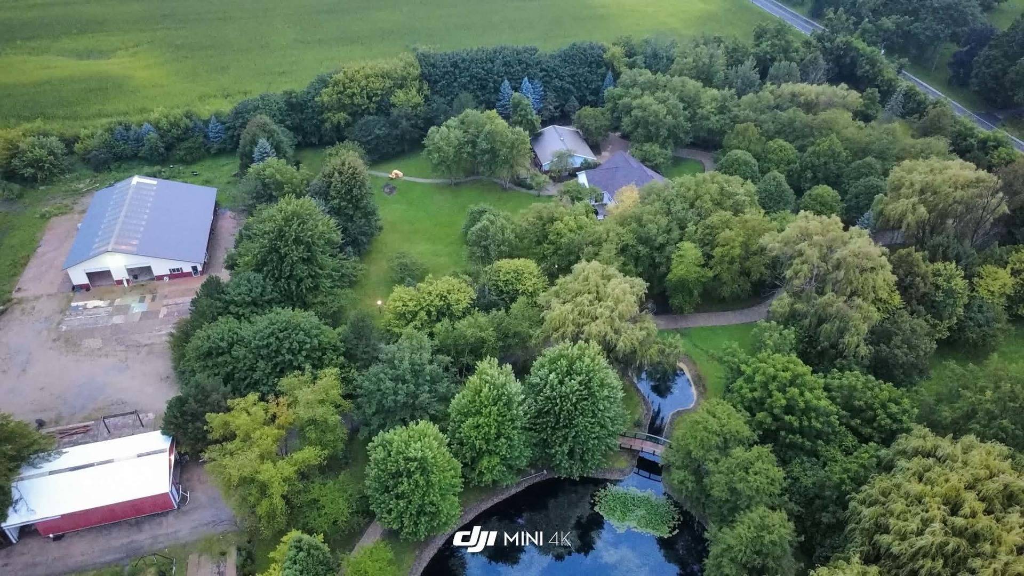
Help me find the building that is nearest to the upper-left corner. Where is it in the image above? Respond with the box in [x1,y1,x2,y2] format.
[61,176,217,288]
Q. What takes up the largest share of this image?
trees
